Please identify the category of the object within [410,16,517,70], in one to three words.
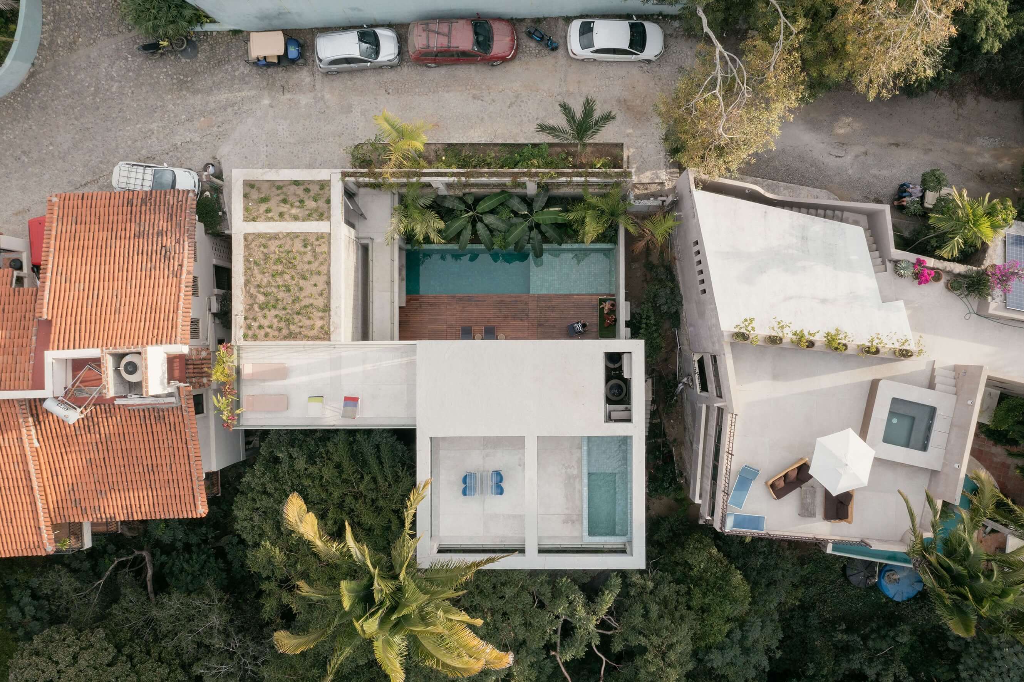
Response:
car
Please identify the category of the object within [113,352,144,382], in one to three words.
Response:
water tank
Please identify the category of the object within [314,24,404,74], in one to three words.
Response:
car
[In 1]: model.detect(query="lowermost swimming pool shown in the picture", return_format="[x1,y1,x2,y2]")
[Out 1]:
[807,537,917,572]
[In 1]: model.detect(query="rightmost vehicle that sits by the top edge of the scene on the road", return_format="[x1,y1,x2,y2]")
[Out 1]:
[567,14,666,66]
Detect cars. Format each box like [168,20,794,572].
[108,160,207,203]
[567,14,666,66]
[314,24,404,74]
[25,210,58,304]
[410,16,517,70]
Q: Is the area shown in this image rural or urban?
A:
urban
